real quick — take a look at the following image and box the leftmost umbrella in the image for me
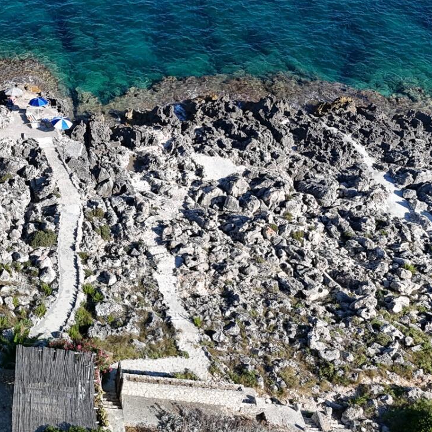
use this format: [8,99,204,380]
[3,86,23,112]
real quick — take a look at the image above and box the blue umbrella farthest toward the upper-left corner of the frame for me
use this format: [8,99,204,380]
[28,97,49,122]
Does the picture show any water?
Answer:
Yes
